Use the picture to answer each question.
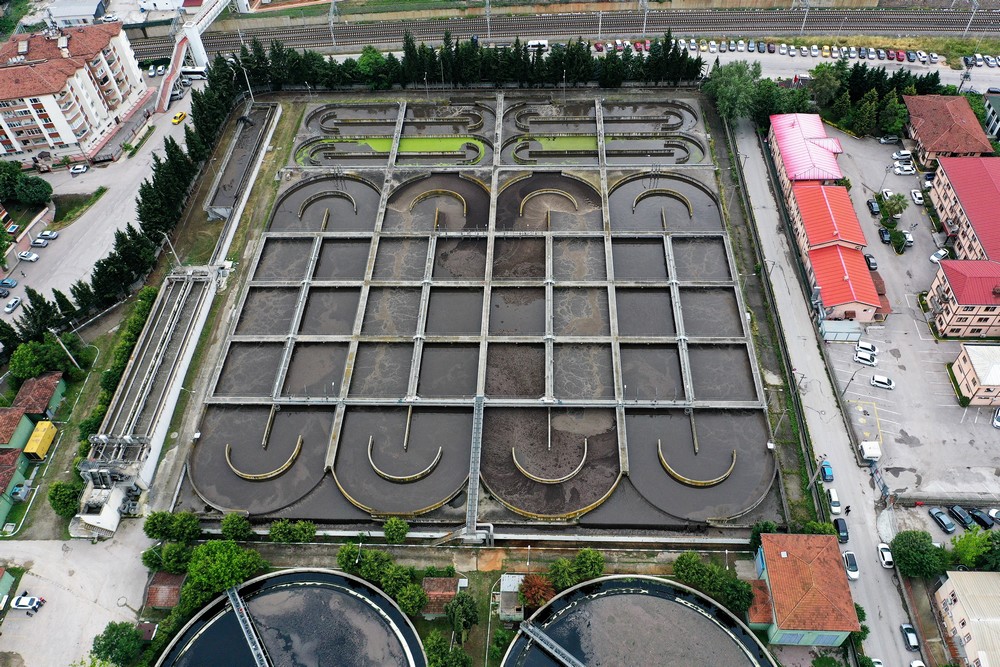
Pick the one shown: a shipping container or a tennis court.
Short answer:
shipping container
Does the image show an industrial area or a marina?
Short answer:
industrial area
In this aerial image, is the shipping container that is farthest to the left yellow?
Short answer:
Yes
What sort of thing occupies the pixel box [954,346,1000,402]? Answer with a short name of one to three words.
building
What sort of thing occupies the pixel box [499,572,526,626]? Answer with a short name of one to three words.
shed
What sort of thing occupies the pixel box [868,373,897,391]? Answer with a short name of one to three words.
car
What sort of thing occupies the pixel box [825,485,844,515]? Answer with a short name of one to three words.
car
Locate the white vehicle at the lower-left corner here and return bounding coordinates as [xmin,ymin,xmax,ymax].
[8,594,42,611]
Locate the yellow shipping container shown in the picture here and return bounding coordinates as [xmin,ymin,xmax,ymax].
[21,420,60,462]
